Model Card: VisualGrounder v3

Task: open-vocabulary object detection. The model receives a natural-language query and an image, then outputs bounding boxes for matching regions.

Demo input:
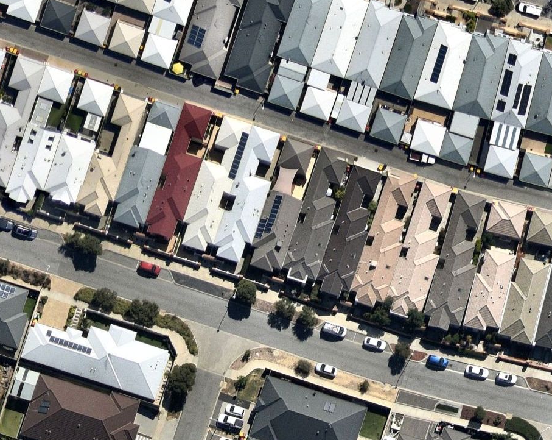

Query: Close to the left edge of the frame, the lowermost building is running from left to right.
[9,368,140,440]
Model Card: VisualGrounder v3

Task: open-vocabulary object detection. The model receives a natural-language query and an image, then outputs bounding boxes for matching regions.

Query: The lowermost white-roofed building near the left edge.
[25,323,169,400]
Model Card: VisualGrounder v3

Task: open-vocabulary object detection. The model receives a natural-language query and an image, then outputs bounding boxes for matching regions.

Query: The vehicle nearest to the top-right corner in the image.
[517,1,542,16]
